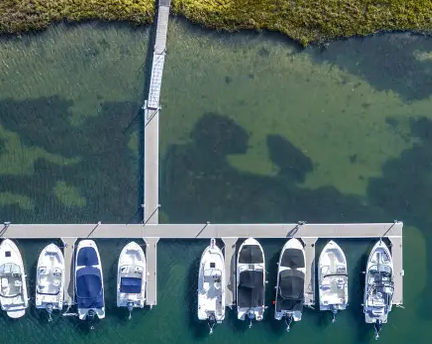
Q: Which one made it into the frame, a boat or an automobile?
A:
boat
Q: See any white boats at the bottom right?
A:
Yes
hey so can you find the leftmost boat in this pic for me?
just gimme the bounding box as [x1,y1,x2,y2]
[0,239,32,318]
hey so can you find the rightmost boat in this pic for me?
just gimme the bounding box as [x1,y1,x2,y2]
[358,236,392,334]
